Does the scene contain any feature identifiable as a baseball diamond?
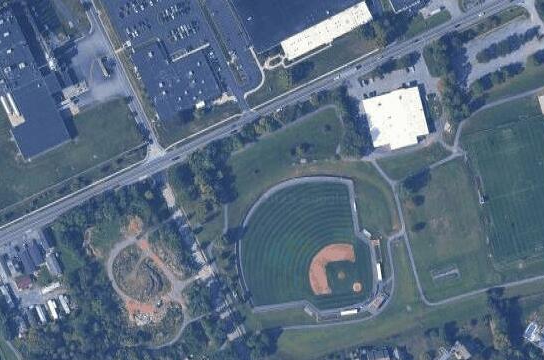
Yes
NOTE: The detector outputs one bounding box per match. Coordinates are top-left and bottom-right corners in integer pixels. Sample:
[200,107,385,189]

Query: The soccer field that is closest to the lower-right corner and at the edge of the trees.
[475,124,544,260]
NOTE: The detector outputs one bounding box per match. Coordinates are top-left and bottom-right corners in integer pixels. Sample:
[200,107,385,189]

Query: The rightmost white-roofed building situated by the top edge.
[281,1,372,60]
